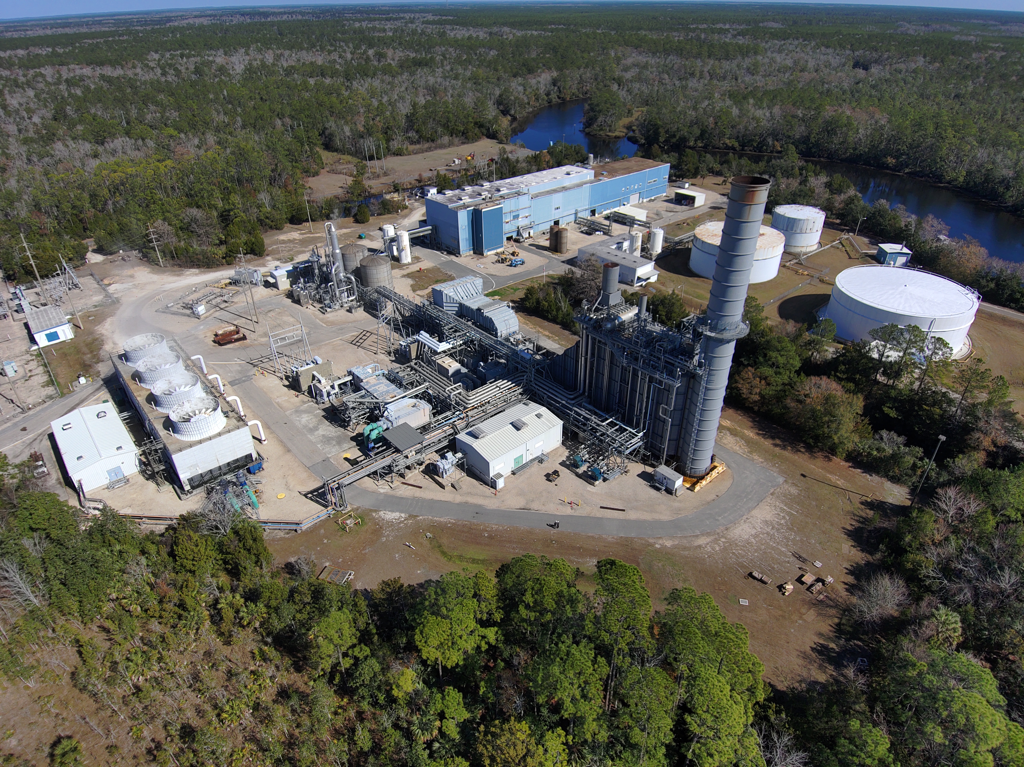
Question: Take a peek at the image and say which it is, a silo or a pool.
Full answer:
Of the two, only a silo appears.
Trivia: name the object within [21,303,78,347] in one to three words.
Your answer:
building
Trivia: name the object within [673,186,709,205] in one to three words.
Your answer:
shed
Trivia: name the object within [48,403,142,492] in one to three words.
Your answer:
building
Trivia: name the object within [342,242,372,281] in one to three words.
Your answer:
silo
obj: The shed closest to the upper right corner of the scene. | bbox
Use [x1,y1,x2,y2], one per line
[877,244,913,265]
